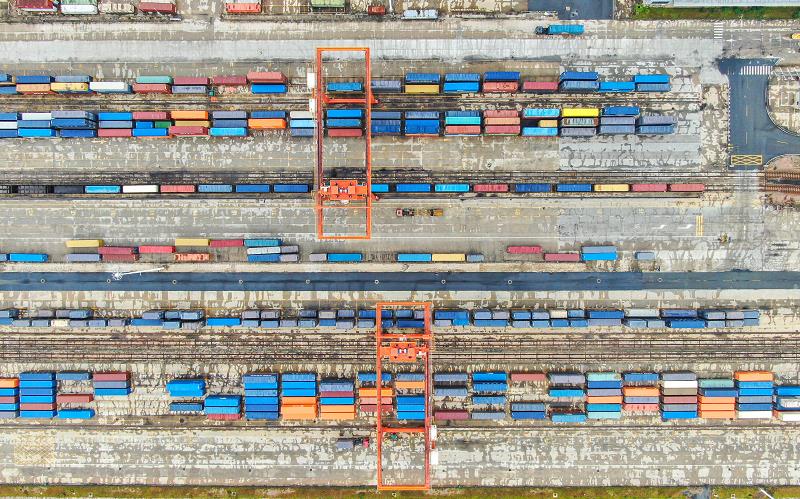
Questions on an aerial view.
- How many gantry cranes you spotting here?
2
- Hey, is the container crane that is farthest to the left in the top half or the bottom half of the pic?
top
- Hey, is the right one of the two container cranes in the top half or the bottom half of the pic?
bottom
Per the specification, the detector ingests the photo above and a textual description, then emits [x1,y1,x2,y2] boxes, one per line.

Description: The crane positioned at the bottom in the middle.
[376,303,441,488]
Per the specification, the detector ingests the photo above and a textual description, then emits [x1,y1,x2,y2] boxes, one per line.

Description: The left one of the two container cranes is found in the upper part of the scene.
[308,49,380,237]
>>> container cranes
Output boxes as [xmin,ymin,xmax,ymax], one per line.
[308,49,380,237]
[376,303,441,488]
